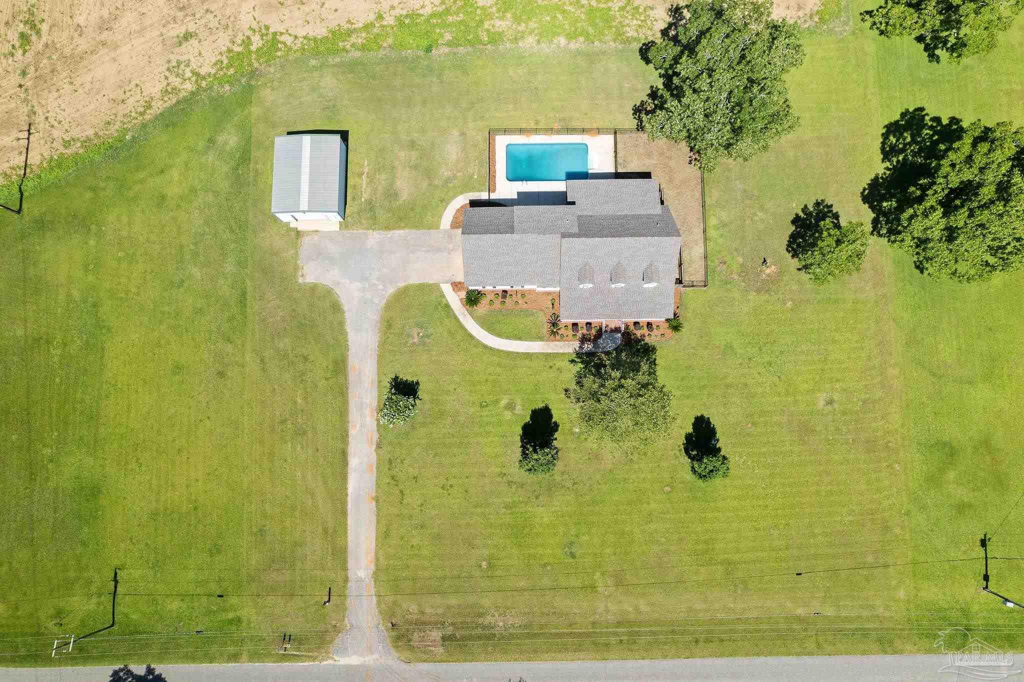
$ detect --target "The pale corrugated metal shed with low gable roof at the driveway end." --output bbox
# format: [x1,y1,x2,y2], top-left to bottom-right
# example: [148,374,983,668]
[272,132,346,221]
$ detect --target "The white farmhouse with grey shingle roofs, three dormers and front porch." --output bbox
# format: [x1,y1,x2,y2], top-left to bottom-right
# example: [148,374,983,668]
[461,178,680,330]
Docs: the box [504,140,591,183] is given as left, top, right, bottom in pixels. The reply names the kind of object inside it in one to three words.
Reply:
swimming pool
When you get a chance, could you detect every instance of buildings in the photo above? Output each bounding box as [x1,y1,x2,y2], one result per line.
[272,132,346,221]
[461,178,680,330]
